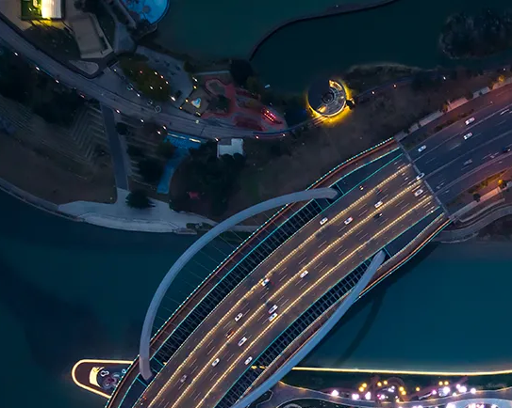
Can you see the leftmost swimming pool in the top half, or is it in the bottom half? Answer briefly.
top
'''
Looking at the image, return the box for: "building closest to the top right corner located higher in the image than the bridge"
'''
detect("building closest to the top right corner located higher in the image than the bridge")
[307,78,348,118]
